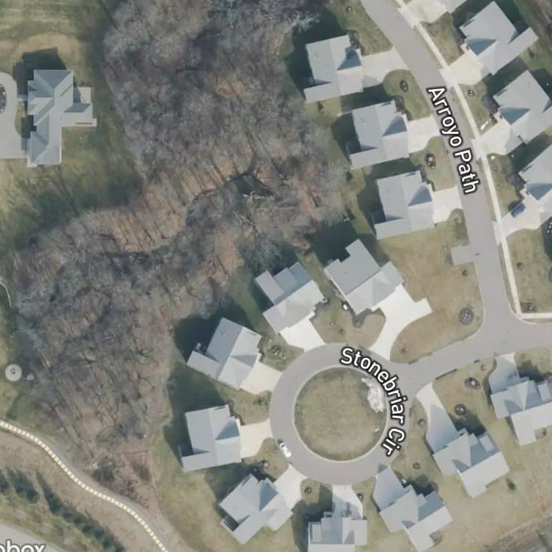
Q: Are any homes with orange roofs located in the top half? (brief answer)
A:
No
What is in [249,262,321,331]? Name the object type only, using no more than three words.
house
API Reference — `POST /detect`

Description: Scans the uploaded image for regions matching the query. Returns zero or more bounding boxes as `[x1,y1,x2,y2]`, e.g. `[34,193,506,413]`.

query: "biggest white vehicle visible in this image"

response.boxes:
[278,442,291,458]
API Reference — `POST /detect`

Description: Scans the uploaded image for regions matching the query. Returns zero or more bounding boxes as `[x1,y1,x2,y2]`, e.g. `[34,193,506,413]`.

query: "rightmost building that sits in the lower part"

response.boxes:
[488,376,552,445]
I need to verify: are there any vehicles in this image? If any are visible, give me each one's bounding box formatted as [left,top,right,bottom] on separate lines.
[278,442,291,458]
[510,200,527,216]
